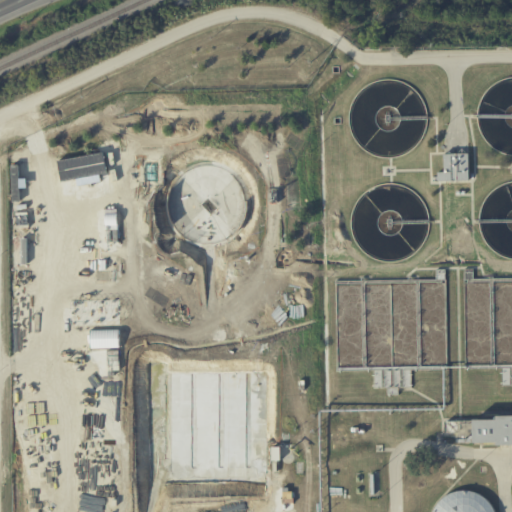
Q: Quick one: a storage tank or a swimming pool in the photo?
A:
storage tank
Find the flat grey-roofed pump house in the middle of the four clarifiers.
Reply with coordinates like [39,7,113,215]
[431,154,469,180]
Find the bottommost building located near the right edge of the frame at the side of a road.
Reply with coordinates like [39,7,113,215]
[472,416,512,446]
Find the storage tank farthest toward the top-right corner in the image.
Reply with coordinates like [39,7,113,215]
[478,77,512,156]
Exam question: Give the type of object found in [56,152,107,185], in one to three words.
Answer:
barn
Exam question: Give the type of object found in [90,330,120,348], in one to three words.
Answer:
building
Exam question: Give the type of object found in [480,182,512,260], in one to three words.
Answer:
storage tank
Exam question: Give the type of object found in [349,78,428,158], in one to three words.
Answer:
storage tank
